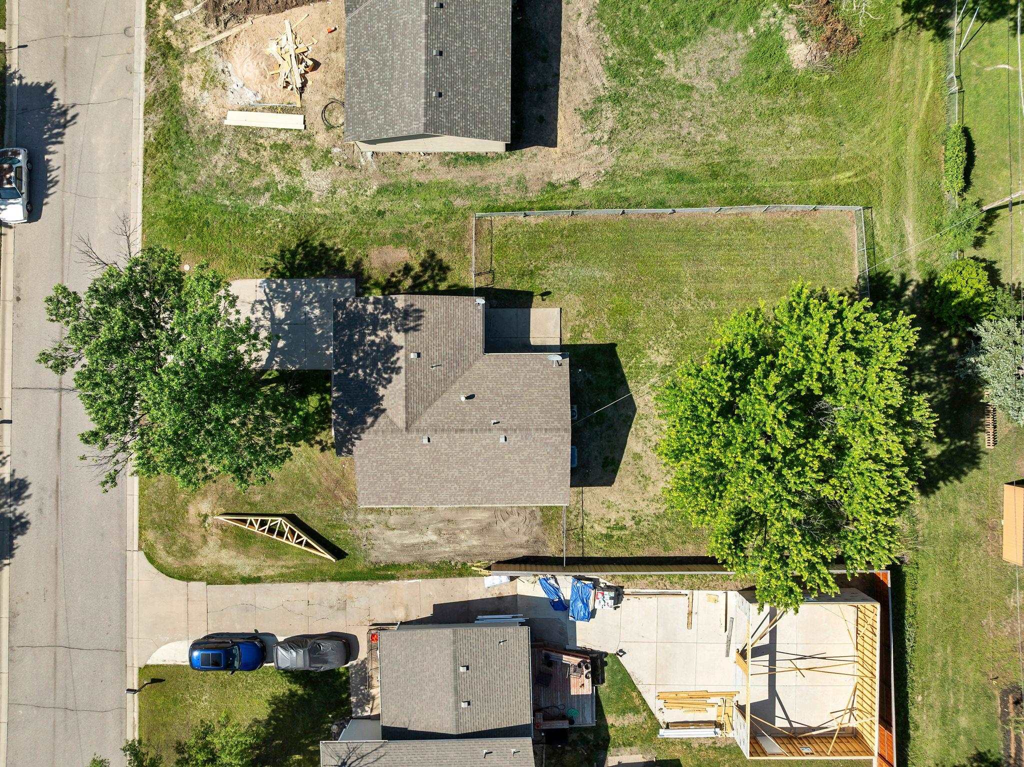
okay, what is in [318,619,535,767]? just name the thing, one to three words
house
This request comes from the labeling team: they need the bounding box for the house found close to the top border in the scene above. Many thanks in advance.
[345,0,511,152]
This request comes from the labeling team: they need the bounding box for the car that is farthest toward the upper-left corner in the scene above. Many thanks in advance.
[0,148,36,225]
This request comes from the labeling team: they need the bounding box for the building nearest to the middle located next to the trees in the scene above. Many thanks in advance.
[330,294,571,508]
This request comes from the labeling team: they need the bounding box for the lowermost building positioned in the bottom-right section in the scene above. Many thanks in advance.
[735,589,879,758]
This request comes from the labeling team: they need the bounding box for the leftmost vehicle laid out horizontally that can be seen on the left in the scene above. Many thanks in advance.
[189,637,267,676]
